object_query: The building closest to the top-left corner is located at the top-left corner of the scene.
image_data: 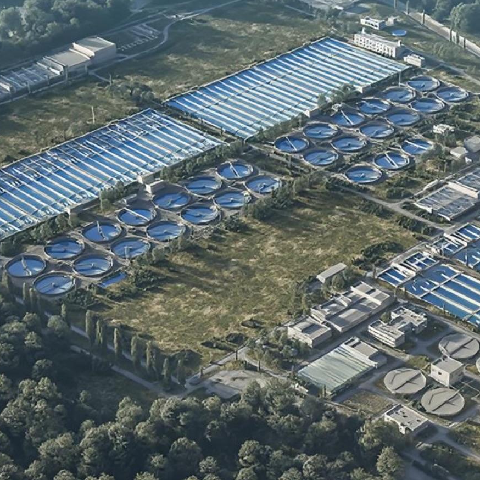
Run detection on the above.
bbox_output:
[42,35,115,78]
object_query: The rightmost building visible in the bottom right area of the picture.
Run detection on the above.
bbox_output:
[431,355,464,386]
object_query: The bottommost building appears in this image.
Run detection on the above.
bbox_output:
[384,403,428,438]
